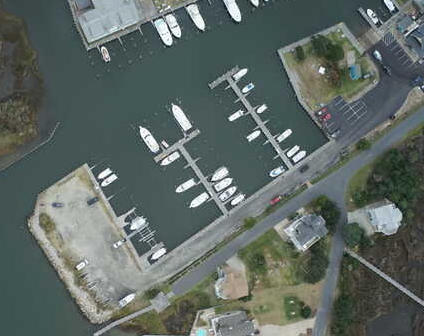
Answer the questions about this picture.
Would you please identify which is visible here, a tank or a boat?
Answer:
boat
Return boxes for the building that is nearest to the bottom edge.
[208,310,257,336]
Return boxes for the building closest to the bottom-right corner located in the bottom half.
[362,200,402,235]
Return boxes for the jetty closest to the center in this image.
[153,129,239,215]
